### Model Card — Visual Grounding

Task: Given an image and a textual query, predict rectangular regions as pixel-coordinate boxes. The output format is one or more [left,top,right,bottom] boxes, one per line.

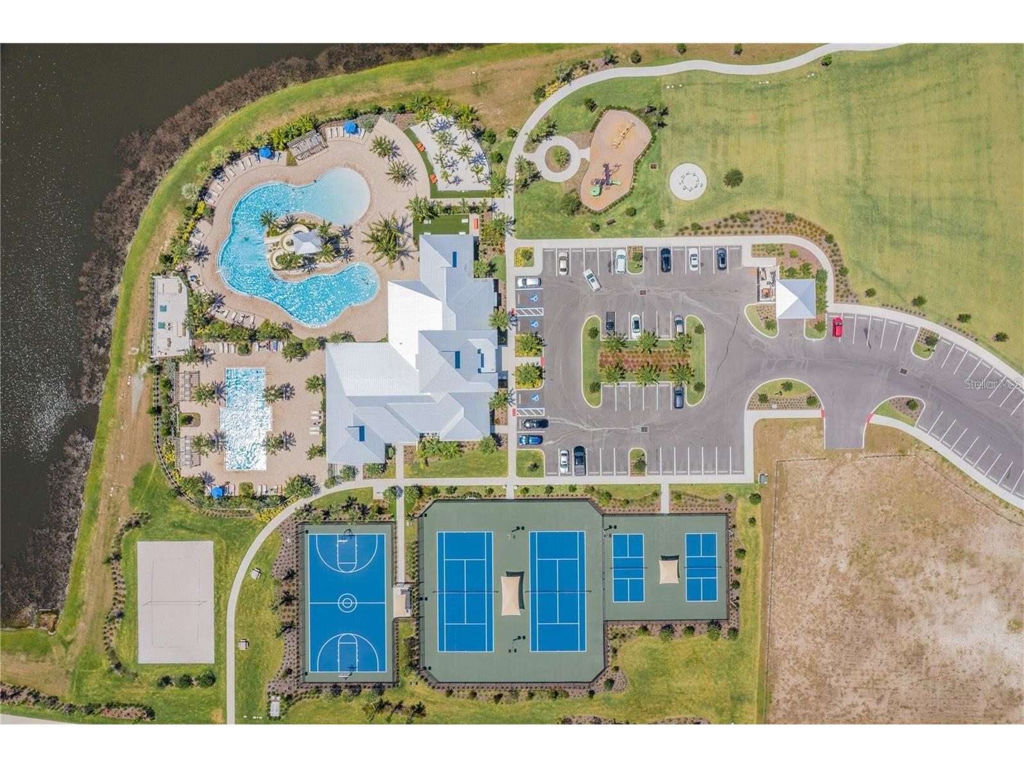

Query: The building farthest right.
[771,279,816,319]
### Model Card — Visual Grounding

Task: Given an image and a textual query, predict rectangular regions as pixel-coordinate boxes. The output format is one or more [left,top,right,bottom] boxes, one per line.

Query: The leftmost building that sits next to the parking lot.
[326,235,497,463]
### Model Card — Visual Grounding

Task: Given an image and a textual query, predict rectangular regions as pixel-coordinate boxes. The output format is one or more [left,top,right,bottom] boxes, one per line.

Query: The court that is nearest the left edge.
[138,541,214,664]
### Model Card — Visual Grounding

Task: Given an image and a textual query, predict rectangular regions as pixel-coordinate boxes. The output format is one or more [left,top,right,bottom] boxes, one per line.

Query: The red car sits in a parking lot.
[831,316,845,339]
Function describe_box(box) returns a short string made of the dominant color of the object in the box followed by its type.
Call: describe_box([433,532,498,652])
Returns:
blue tennis court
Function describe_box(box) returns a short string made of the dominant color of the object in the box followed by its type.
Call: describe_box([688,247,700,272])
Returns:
white vehicle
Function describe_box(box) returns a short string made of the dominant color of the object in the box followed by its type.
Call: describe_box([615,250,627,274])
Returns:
white vehicle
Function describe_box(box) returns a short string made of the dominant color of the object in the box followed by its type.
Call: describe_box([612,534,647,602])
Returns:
blue sports court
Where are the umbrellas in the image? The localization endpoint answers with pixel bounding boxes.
[212,485,224,498]
[260,146,272,159]
[344,121,356,133]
